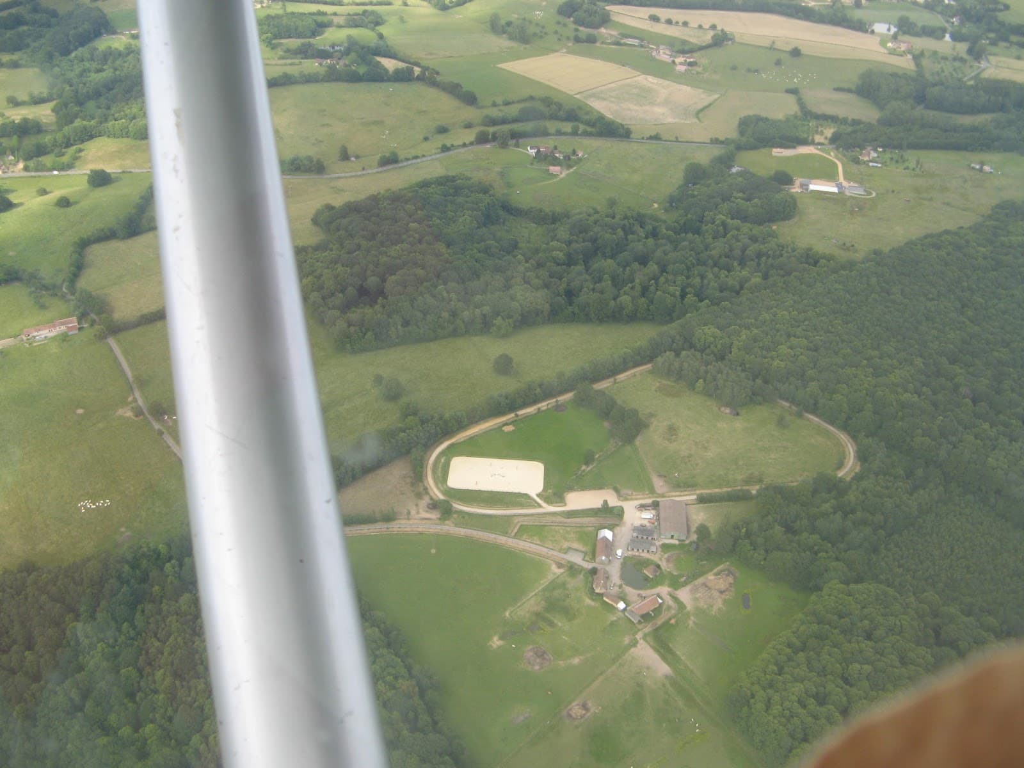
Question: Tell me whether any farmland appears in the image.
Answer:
Yes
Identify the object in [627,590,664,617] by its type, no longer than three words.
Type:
barn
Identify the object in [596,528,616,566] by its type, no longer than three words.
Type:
barn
